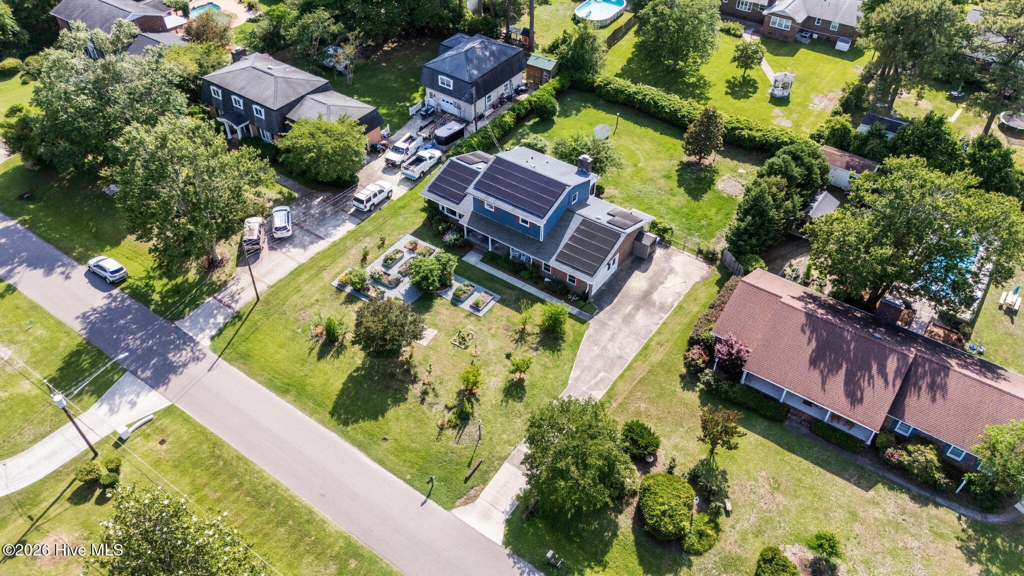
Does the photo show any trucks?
Yes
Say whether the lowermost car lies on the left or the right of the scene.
left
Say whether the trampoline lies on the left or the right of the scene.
right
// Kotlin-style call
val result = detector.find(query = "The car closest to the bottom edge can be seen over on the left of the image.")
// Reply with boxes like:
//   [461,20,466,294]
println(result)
[84,252,127,283]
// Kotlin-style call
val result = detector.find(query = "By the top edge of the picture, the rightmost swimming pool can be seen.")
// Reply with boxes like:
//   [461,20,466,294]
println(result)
[573,0,625,26]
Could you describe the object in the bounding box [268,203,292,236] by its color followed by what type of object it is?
white car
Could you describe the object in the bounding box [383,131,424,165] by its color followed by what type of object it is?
white truck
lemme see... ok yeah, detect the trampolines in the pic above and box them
[996,111,1024,132]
